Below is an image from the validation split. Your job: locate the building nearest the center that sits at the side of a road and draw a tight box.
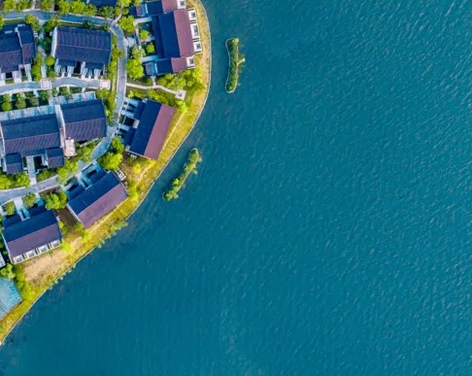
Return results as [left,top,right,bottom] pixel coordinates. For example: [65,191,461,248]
[114,97,175,161]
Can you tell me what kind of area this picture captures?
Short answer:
residential area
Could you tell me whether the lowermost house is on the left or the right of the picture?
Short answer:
left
